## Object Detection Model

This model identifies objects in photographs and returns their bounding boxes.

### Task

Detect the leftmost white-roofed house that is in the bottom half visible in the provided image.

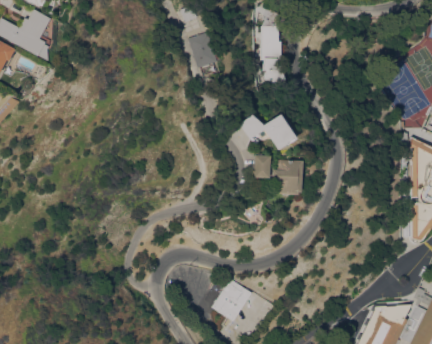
[212,280,251,321]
